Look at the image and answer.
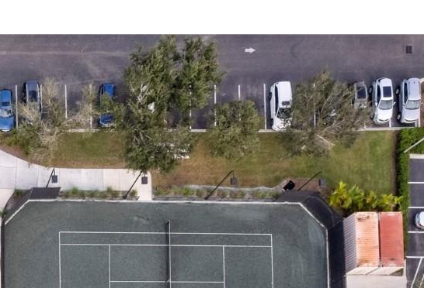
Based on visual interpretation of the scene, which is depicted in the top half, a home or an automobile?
automobile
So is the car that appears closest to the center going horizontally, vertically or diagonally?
vertically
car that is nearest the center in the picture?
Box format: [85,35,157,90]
[272,81,294,128]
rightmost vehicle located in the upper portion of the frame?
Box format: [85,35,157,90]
[397,77,423,123]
